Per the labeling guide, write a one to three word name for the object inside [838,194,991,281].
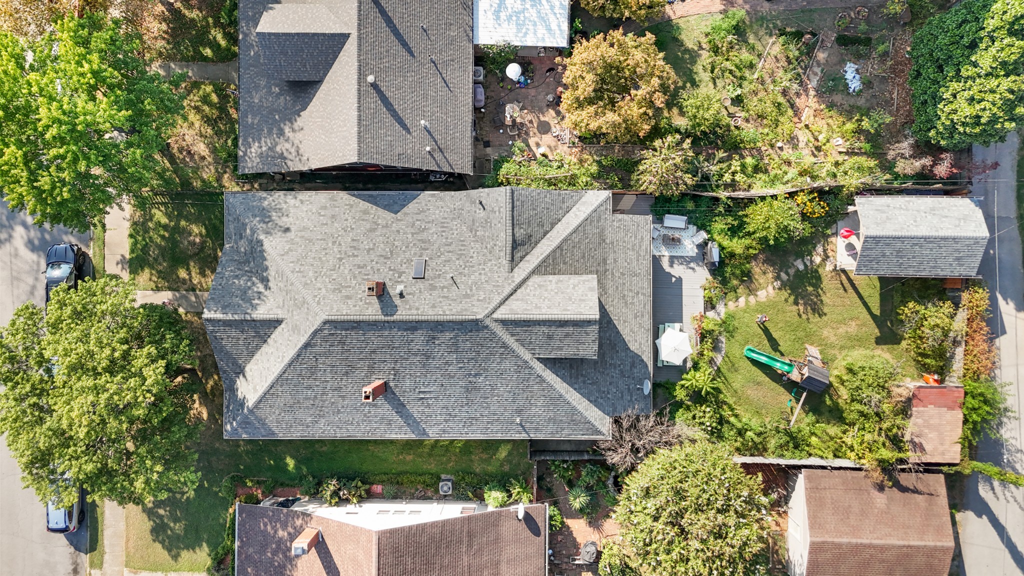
shed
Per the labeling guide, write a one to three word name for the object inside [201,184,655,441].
house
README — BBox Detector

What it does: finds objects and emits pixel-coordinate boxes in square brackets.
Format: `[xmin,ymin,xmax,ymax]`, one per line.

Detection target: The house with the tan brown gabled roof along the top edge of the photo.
[236,0,476,178]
